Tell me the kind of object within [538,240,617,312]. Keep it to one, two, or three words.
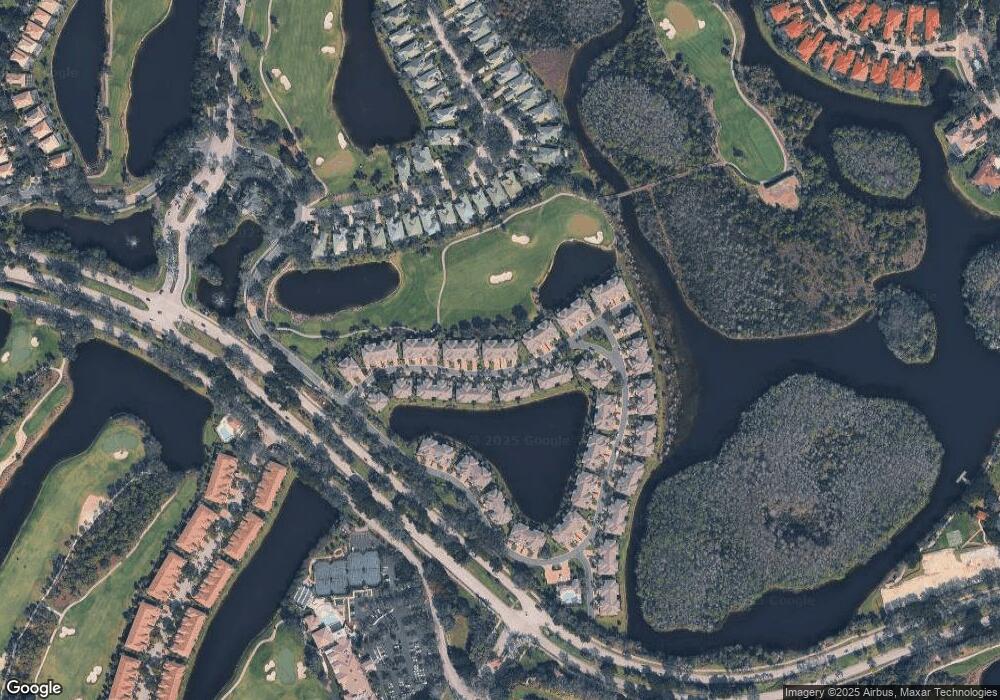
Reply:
pond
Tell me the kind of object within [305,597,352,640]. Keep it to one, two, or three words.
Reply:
swimming pool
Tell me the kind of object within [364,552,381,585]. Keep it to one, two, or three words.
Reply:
tennis court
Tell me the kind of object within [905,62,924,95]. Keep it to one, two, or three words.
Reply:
house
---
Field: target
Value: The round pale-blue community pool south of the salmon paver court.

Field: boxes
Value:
[559,587,582,605]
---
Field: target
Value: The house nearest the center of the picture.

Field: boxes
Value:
[481,338,519,363]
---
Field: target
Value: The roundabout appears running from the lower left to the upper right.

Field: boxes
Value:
[164,168,226,236]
